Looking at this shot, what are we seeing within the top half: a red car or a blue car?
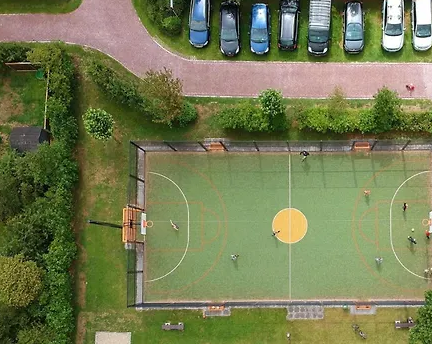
blue car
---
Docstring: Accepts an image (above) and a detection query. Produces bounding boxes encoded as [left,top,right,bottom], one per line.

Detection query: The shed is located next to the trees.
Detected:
[0,122,47,150]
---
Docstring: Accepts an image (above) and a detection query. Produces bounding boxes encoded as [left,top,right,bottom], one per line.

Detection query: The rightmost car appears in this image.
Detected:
[410,1,432,52]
